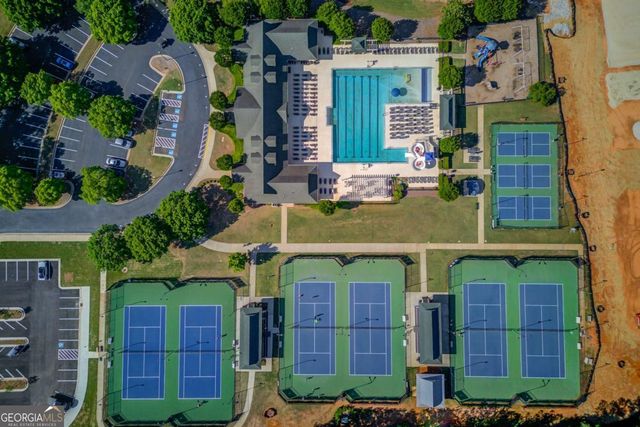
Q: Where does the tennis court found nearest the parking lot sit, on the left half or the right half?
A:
left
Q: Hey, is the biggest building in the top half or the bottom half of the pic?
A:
top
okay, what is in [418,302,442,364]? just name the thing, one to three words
building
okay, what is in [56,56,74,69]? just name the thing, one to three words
vehicle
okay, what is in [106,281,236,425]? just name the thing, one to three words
tennis court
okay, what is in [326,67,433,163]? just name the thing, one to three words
swimming pool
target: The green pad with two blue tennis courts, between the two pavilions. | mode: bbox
[279,257,406,401]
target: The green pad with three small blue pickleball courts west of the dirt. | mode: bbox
[491,123,559,228]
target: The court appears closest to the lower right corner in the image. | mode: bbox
[449,258,580,406]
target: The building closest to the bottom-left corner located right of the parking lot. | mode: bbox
[241,306,263,370]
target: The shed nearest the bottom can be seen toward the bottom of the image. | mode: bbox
[415,372,445,413]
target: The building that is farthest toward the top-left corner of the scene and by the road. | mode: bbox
[229,20,318,204]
